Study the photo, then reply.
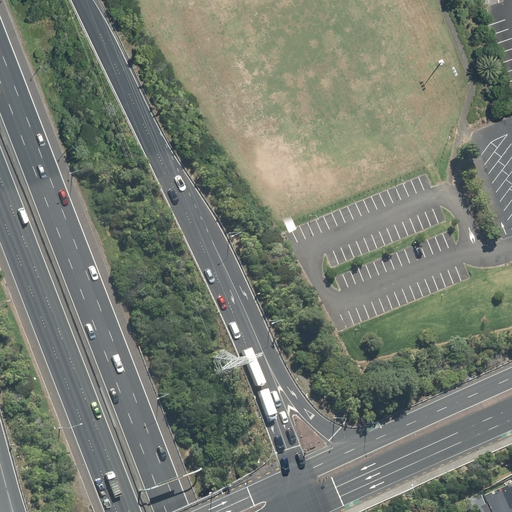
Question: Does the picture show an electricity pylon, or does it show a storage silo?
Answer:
electricity pylon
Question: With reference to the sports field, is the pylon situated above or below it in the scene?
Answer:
below it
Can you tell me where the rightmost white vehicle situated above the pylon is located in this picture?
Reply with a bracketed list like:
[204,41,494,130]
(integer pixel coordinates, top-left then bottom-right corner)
[229,321,241,340]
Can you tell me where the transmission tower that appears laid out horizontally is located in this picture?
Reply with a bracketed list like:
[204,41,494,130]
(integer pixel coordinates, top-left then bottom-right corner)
[210,348,264,374]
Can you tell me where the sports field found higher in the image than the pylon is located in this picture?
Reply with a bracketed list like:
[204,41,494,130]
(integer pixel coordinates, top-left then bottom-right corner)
[140,0,466,222]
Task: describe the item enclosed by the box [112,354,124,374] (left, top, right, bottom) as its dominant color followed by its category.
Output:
white vehicle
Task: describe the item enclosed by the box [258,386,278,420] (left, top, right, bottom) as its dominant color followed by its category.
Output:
white vehicle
